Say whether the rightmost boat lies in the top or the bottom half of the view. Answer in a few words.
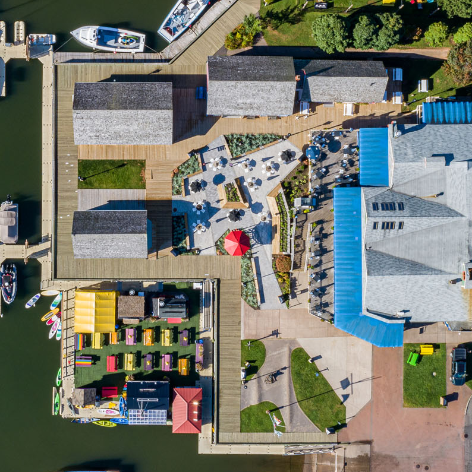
top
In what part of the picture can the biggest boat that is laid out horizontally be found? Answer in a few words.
top left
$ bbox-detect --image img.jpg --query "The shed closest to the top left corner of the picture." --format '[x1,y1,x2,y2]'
[70,82,173,145]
